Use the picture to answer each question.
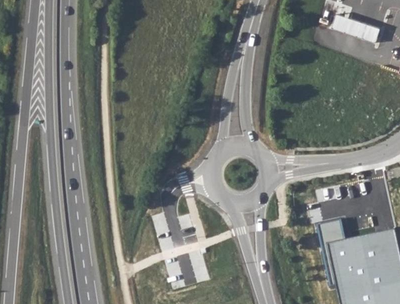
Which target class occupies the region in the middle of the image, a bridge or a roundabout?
roundabout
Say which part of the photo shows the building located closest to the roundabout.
bottom right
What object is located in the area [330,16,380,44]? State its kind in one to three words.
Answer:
shed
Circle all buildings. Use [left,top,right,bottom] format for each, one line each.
[314,214,400,304]
[330,16,380,44]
